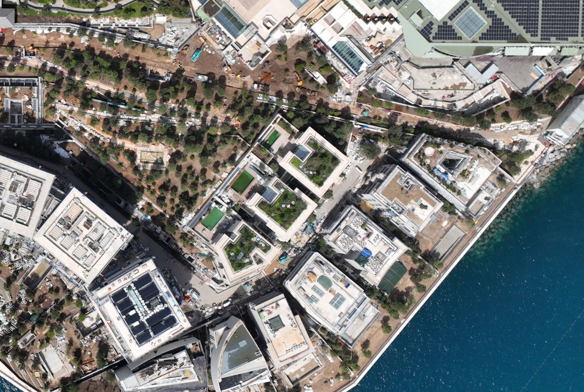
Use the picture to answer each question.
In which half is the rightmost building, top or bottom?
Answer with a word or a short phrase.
top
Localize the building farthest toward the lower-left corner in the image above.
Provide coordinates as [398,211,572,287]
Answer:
[39,345,67,379]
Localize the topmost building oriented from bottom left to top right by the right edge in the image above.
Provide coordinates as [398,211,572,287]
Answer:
[539,74,584,144]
